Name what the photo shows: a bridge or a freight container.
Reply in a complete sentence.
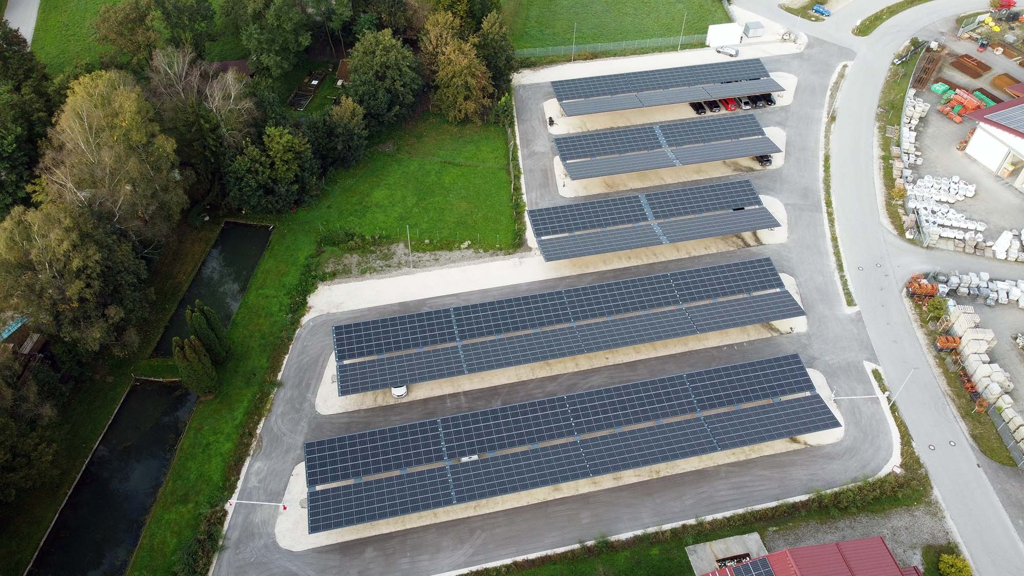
Visible in the photo is a freight container.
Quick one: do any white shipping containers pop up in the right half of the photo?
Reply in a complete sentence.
Yes, a white shipping container is visible in the right half of the photo.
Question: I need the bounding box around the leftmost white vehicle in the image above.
[389,386,406,401]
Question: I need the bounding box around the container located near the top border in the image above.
[704,21,744,46]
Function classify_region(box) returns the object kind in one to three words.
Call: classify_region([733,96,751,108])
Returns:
vehicle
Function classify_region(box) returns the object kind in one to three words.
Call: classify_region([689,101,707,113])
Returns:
vehicle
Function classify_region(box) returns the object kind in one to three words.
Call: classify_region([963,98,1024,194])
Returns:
building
